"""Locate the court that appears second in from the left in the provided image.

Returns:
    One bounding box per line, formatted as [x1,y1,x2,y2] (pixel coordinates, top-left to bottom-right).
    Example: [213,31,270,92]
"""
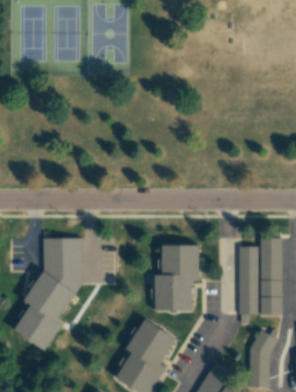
[52,6,80,60]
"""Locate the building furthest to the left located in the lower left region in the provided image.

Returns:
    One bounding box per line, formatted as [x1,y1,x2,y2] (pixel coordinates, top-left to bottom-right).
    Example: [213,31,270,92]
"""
[12,238,82,350]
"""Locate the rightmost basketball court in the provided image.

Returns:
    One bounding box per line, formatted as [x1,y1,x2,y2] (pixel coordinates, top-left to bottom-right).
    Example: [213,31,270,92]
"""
[92,4,128,63]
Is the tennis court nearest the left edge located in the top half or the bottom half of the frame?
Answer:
top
